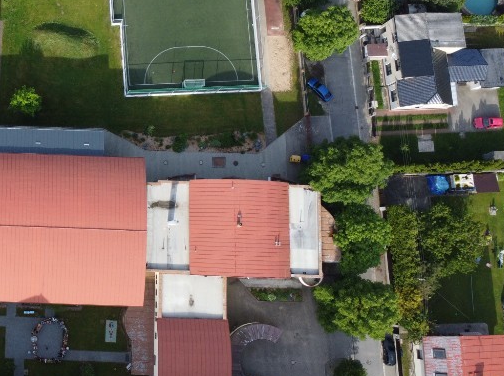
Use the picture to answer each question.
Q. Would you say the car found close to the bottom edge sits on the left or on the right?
right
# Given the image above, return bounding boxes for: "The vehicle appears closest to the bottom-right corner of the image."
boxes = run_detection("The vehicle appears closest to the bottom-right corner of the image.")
[379,332,399,366]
